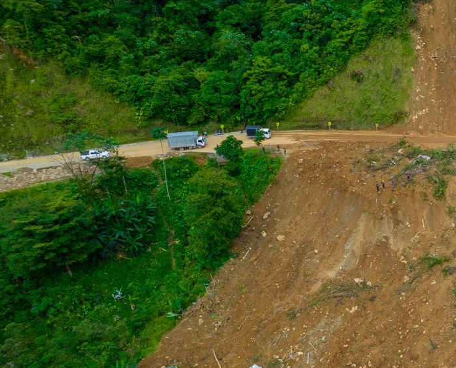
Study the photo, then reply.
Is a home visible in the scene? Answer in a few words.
No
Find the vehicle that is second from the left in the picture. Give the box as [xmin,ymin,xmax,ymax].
[164,132,206,151]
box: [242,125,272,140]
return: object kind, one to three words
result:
vehicle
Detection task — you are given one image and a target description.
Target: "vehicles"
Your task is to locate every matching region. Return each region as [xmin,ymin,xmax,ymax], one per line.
[78,147,110,160]
[164,132,206,151]
[242,125,272,140]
